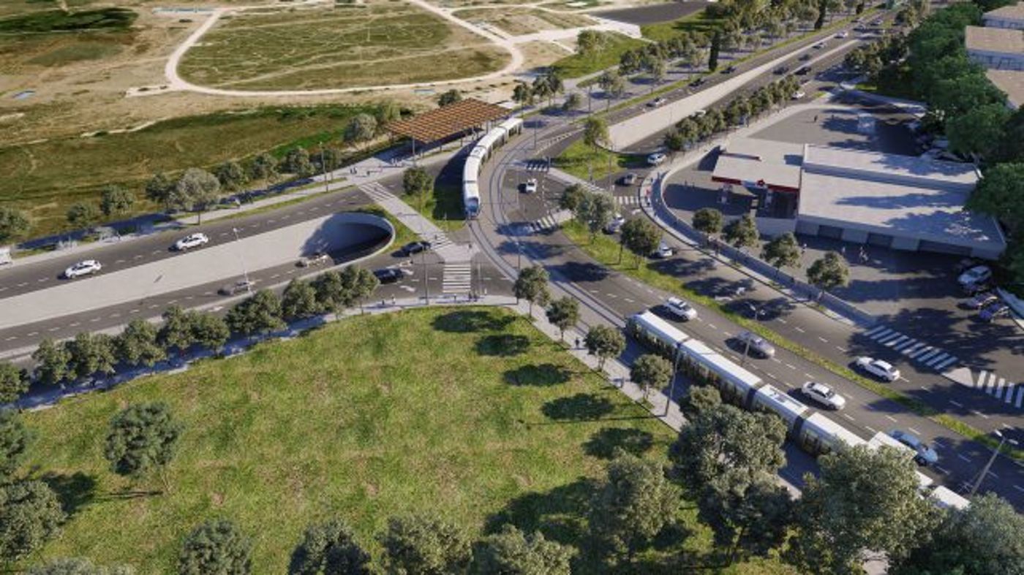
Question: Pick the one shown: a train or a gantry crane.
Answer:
train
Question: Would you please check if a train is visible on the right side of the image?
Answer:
Yes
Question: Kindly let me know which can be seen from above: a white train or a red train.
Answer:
white train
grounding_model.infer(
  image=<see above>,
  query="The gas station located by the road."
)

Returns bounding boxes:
[712,133,804,211]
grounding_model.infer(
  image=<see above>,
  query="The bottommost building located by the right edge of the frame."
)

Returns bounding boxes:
[796,137,1004,262]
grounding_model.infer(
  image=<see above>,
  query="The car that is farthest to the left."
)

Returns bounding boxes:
[62,256,100,277]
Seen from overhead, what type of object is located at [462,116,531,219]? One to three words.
train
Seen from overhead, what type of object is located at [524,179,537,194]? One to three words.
vehicle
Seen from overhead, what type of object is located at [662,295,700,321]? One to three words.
car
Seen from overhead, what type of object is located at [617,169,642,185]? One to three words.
car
